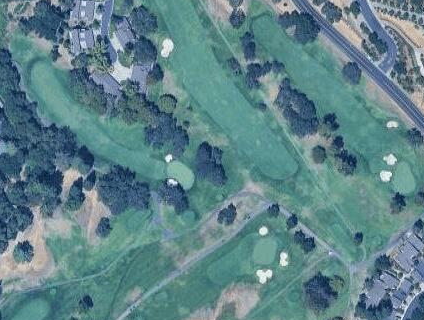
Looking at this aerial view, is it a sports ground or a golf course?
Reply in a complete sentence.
It's a golf course.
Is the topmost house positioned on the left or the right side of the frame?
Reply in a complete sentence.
It is on the left.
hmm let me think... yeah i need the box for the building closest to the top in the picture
[70,0,94,20]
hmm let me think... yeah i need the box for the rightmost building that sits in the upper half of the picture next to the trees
[132,61,153,96]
